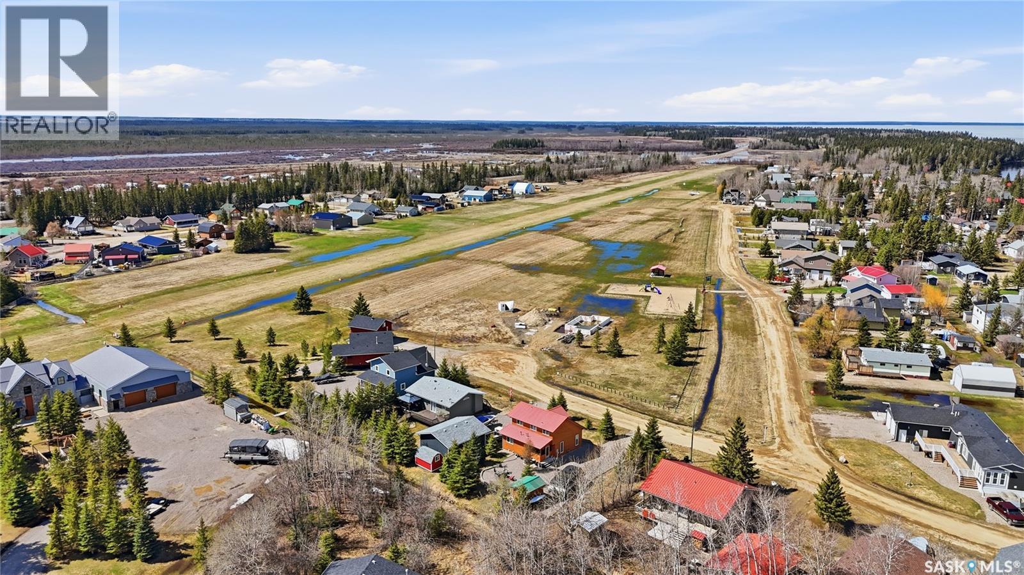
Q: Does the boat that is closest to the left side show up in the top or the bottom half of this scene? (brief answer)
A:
bottom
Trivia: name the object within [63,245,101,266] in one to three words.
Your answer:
house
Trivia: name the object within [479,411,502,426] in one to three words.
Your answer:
boat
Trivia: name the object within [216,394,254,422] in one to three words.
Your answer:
shed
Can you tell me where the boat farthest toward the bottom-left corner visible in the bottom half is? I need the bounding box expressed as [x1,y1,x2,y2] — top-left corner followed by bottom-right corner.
[213,442,273,465]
